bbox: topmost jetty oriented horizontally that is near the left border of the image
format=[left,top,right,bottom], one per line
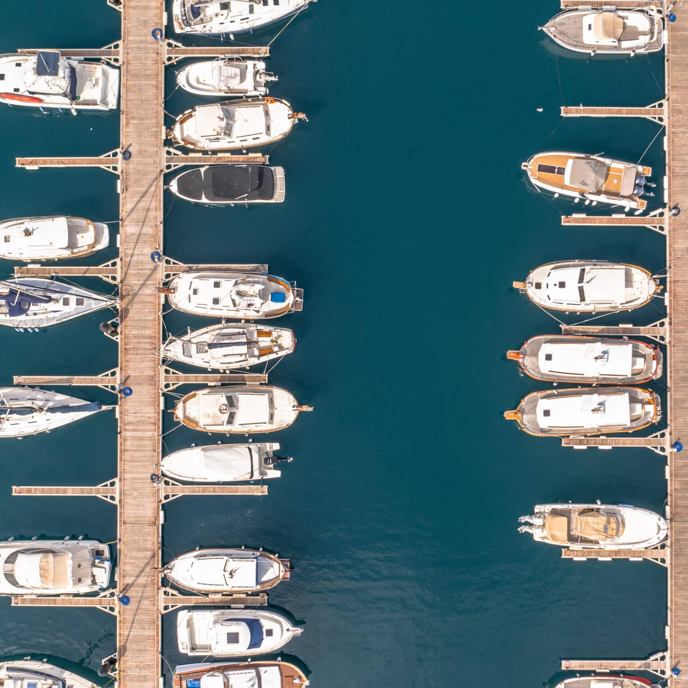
[16,41,121,68]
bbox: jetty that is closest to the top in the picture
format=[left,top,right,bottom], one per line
[559,0,664,18]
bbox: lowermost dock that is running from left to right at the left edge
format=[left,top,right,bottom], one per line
[10,587,118,614]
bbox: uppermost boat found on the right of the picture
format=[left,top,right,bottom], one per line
[537,6,662,58]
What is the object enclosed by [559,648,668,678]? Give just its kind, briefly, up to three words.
pier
